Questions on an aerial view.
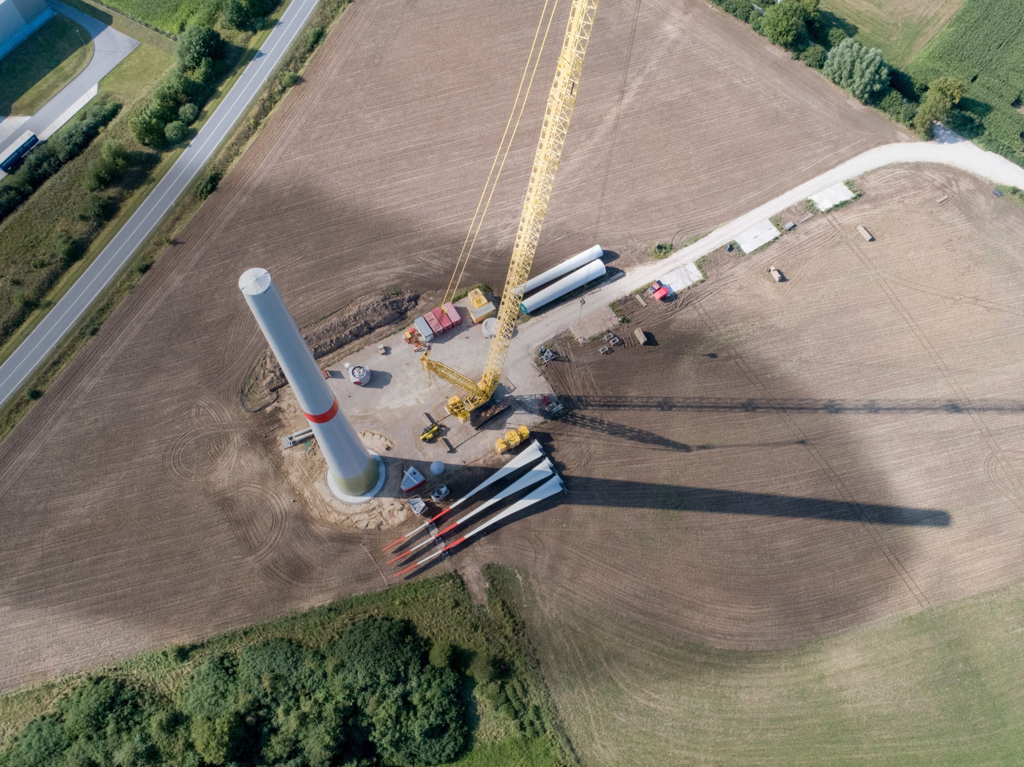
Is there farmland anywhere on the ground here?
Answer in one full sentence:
Yes, farmland shows up in the scene.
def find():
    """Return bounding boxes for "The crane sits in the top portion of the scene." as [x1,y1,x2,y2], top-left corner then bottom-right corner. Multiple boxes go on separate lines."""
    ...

[416,0,626,434]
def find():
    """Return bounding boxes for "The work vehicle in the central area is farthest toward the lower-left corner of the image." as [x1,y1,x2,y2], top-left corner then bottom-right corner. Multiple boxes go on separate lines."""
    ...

[420,418,451,442]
